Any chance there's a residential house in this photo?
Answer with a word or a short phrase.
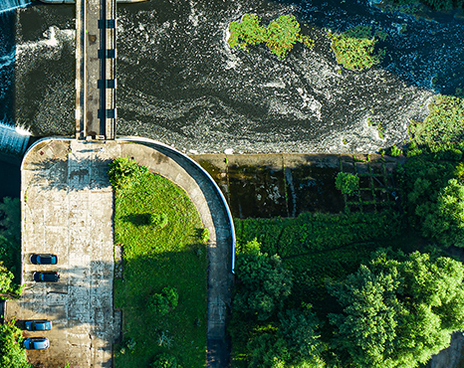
No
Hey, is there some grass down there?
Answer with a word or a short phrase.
Yes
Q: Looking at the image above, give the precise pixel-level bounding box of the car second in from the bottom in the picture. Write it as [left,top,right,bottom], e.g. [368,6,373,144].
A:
[25,319,52,332]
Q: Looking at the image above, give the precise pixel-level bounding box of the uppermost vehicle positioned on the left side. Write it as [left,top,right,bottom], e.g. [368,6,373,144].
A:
[31,253,57,266]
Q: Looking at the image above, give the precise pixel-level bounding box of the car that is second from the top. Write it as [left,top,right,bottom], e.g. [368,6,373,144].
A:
[33,270,60,283]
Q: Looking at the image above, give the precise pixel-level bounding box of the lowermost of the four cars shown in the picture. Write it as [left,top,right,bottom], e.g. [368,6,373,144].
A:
[23,337,50,351]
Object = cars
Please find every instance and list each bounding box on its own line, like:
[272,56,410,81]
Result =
[23,337,50,351]
[31,253,57,266]
[25,319,52,332]
[33,270,60,283]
